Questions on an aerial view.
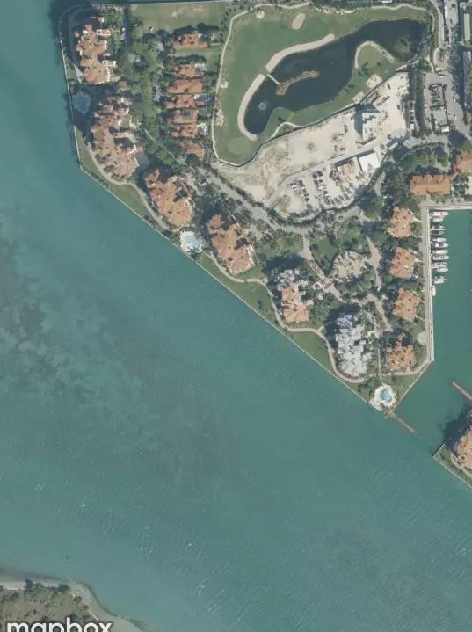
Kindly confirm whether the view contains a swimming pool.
Yes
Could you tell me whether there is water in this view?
Yes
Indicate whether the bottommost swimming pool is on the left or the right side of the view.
right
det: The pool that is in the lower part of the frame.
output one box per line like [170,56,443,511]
[371,385,396,413]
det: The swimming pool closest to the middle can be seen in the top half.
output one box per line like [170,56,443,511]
[179,229,202,253]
